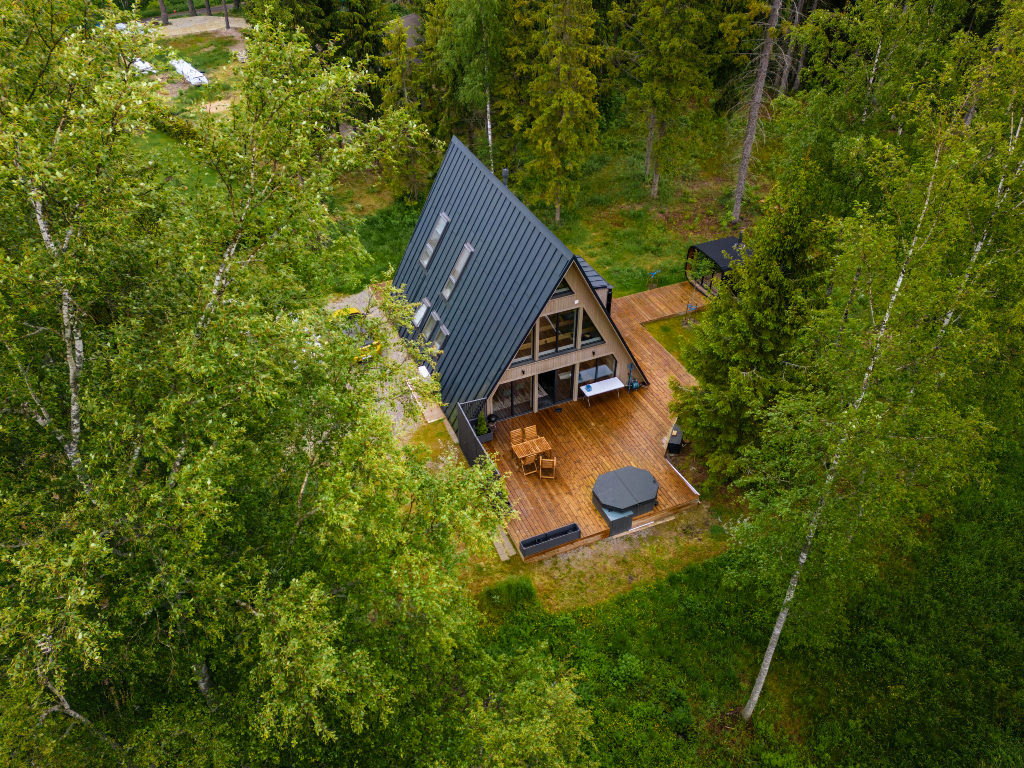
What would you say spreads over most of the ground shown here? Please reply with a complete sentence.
The scene is dominated by trees.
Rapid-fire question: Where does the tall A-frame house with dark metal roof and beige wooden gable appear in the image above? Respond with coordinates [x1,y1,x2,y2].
[383,134,651,455]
